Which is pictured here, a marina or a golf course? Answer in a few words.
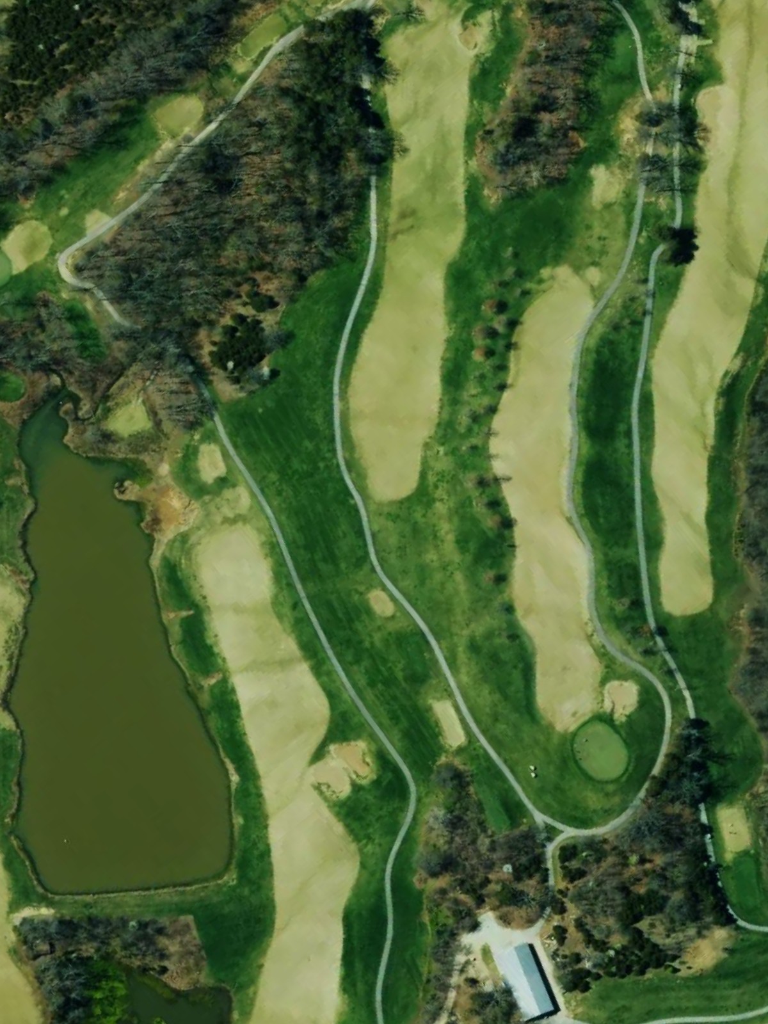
golf course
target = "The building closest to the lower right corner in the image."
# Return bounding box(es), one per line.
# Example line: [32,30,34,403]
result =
[501,946,555,1022]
